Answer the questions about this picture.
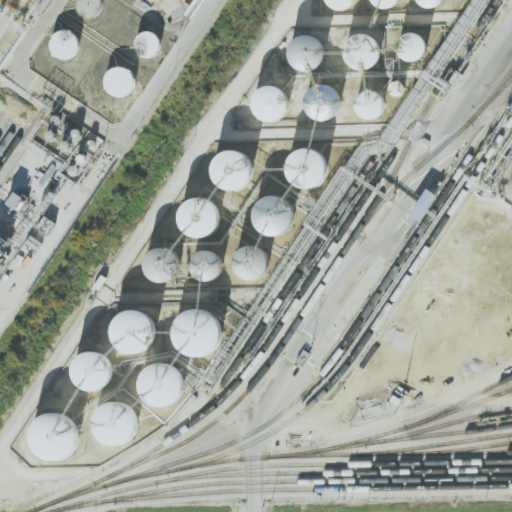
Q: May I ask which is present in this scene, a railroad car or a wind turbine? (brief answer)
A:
railroad car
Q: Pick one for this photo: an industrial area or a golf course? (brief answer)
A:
industrial area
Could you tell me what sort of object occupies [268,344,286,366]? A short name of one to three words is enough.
rail car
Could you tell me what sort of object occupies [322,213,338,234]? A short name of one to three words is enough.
rail car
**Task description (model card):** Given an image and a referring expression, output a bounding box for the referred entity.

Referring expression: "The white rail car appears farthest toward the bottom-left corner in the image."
[164,426,189,446]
